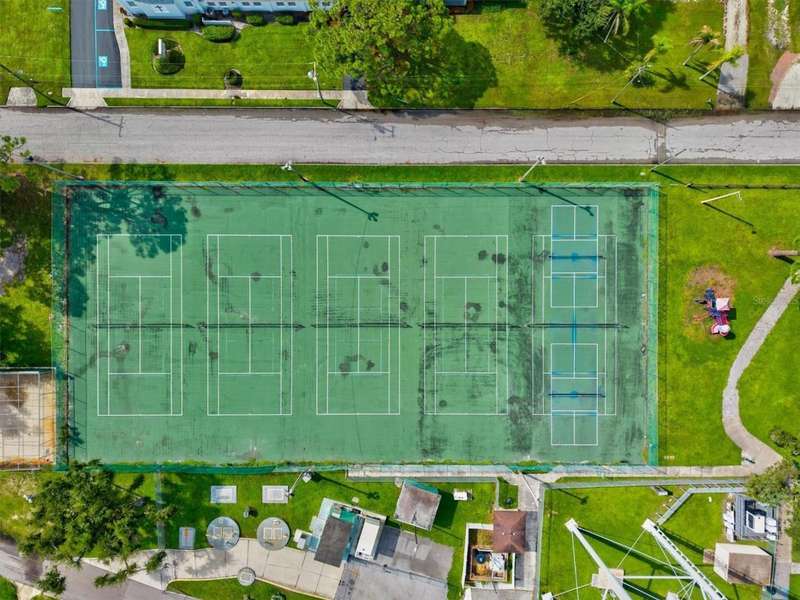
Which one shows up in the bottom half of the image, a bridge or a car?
bridge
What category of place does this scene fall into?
sports ground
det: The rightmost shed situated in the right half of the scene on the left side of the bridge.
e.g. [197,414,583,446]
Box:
[491,508,527,553]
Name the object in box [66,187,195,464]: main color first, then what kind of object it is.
green tennis court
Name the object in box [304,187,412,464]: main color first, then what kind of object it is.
green tennis court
